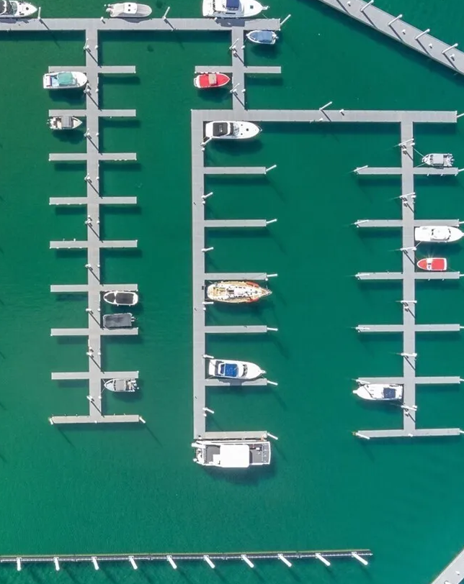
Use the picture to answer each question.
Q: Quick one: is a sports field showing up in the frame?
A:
No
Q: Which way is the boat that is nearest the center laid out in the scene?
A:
from left to right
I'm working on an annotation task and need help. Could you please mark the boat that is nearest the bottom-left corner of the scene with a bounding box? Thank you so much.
[104,379,140,392]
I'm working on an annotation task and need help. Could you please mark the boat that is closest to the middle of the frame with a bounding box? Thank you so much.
[203,281,273,303]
